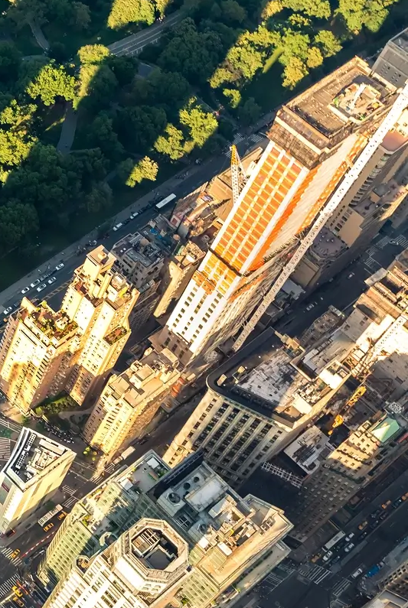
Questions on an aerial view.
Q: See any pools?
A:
No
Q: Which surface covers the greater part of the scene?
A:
buildings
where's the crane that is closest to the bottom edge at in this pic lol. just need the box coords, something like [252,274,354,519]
[324,385,369,441]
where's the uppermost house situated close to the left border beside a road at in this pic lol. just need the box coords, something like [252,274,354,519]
[0,239,138,407]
